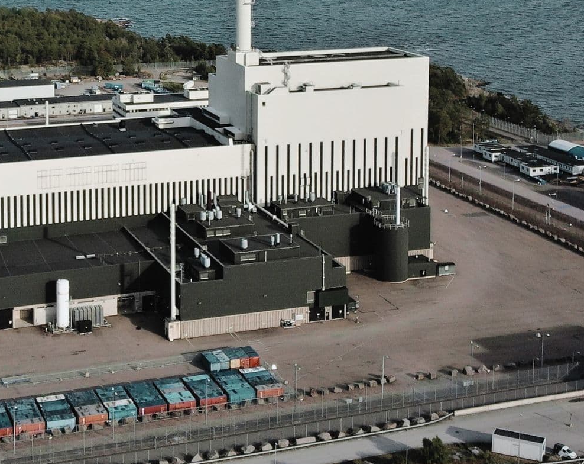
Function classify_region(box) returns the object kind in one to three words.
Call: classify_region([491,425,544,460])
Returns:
shed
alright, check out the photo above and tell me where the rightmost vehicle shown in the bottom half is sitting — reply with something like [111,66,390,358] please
[549,440,580,460]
